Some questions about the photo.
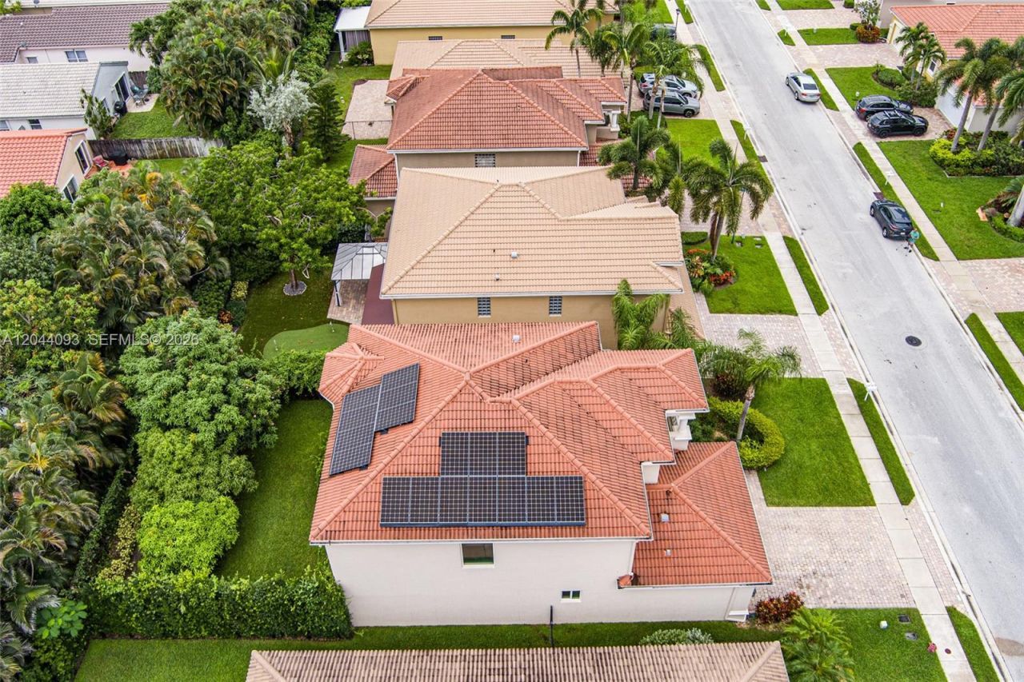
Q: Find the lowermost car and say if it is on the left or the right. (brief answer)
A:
right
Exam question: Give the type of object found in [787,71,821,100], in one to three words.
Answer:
car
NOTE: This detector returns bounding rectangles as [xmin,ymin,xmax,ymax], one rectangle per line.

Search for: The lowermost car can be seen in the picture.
[869,197,918,240]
